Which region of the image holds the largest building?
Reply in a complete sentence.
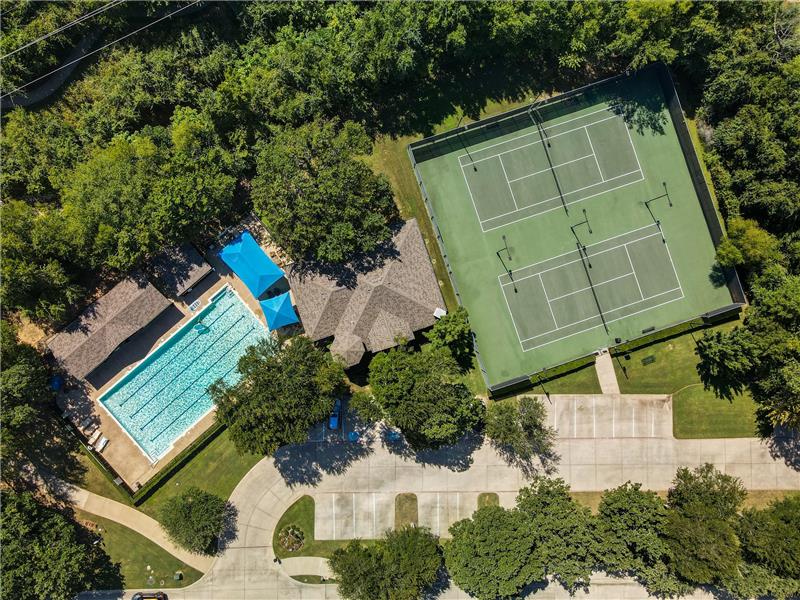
The largest building sits in the center section of the image.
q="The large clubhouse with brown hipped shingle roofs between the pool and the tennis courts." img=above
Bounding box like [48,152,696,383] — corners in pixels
[284,218,446,364]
